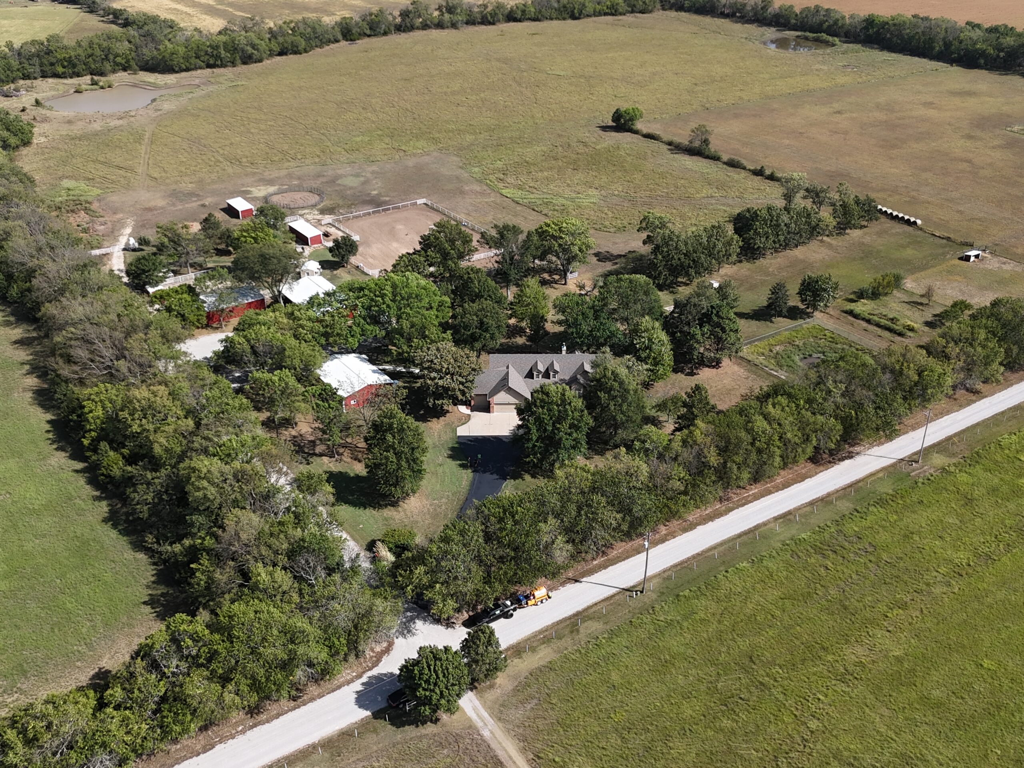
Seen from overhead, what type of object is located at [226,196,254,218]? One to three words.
shed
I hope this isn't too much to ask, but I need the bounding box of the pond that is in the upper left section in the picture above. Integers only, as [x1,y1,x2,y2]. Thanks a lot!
[49,85,198,113]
